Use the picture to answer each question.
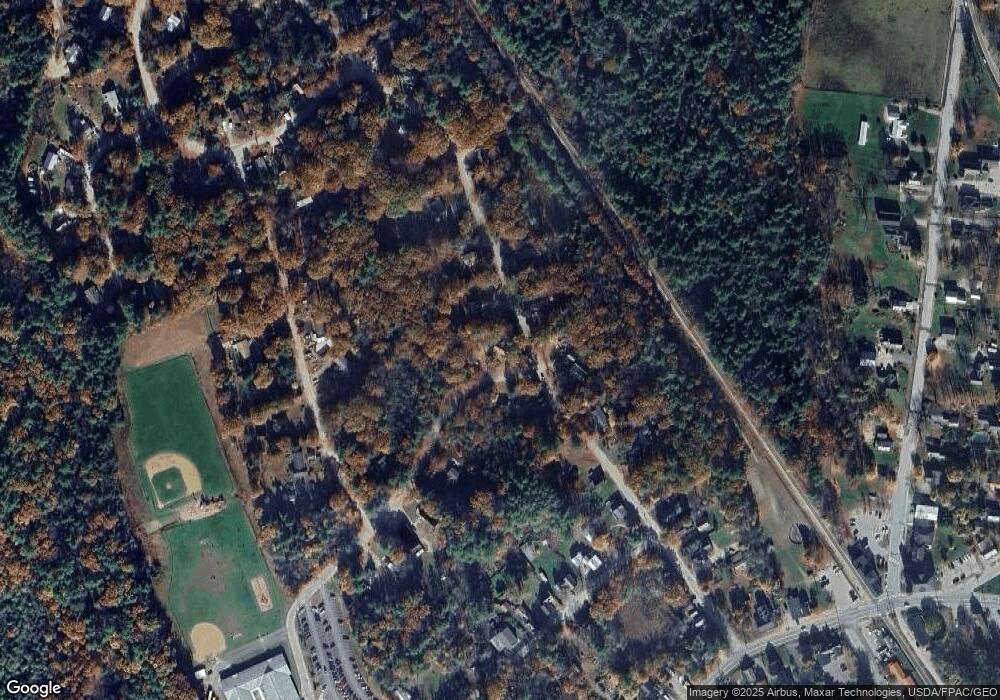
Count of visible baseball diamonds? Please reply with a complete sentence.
I count 2 baseball diamonds.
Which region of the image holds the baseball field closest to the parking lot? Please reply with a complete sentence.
The baseball field closest to the parking lot is in the bottom left part of the image.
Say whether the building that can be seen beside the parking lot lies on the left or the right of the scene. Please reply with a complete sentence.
The building that can be seen beside the parking lot is on the left side of the image.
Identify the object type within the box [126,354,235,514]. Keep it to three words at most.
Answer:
baseball field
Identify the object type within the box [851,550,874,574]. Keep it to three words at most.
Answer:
building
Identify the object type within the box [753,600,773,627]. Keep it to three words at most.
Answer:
house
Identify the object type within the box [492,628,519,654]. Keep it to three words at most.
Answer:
house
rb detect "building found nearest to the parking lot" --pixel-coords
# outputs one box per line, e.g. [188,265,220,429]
[221,655,306,700]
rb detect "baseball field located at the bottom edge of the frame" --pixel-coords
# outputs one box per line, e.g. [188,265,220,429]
[167,499,287,667]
